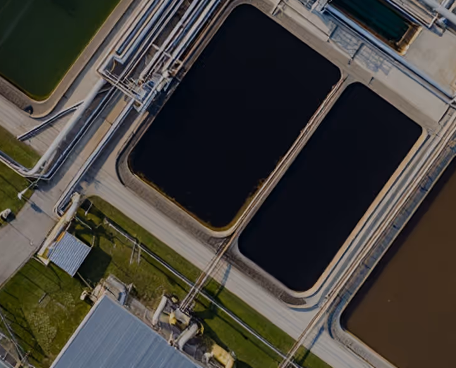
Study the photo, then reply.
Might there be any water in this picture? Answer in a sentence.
Yes, there's water in this view.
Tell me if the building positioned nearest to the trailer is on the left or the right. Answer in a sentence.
The building positioned nearest to the trailer appears in the left half of the scene.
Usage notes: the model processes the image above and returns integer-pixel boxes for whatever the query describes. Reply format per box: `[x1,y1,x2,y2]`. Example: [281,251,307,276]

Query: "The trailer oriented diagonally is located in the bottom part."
[209,338,247,368]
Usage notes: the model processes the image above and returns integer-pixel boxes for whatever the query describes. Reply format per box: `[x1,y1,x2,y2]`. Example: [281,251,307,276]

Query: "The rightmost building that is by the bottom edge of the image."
[49,277,209,368]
